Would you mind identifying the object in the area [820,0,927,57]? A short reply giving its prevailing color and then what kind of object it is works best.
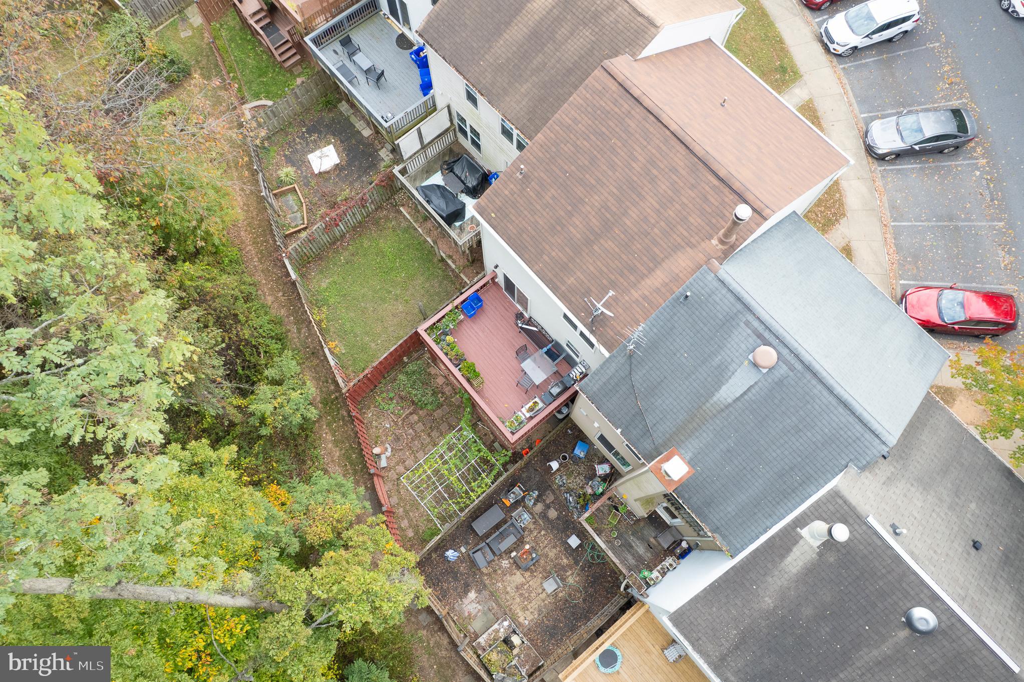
white car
